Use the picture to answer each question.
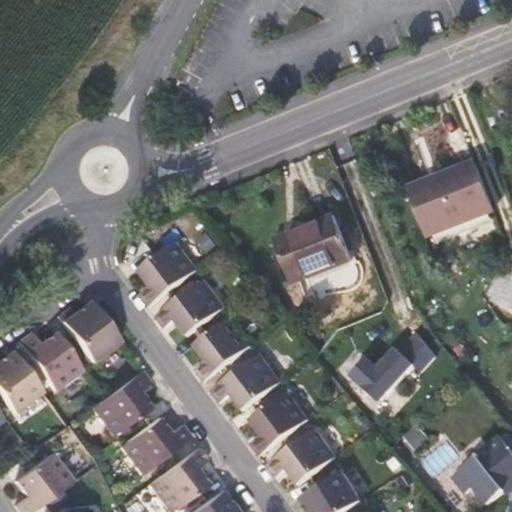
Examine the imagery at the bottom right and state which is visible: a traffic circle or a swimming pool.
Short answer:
swimming pool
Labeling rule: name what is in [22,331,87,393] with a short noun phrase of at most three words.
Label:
house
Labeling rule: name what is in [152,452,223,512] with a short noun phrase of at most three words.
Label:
house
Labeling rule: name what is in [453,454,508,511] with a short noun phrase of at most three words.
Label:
building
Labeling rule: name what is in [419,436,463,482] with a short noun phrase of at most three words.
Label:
swimming pool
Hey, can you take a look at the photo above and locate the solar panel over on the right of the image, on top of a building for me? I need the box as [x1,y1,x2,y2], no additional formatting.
[299,250,330,275]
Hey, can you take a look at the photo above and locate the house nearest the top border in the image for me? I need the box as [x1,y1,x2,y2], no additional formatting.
[404,160,494,241]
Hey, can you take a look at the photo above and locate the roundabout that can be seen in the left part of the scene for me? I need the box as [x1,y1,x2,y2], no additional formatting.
[63,131,145,209]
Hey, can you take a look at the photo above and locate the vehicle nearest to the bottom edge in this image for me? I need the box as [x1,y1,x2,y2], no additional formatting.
[239,486,256,504]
